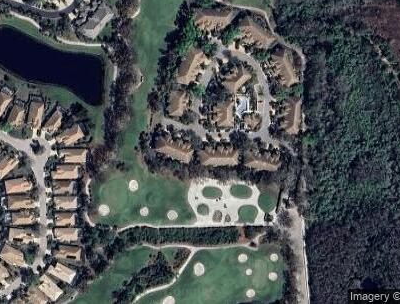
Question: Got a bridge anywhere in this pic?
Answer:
No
